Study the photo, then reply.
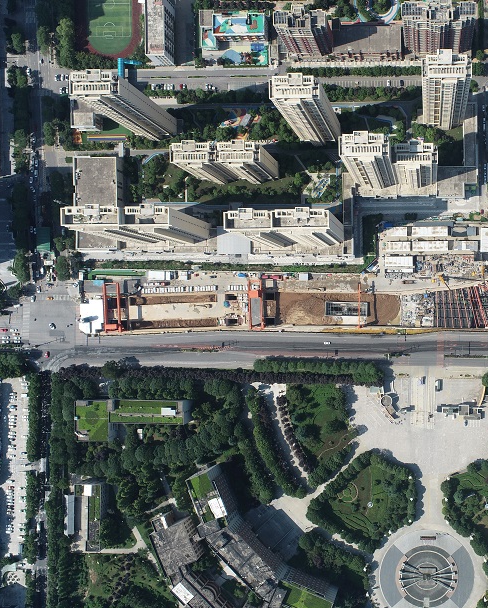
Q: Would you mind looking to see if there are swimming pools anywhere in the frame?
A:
No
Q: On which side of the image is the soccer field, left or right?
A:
left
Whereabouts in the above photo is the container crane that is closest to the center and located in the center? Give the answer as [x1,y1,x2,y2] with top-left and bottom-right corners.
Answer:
[246,281,268,328]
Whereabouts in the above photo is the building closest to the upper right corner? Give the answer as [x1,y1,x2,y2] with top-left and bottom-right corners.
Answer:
[401,0,475,54]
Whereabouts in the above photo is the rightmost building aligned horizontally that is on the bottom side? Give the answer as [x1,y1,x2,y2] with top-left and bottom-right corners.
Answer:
[441,404,482,420]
